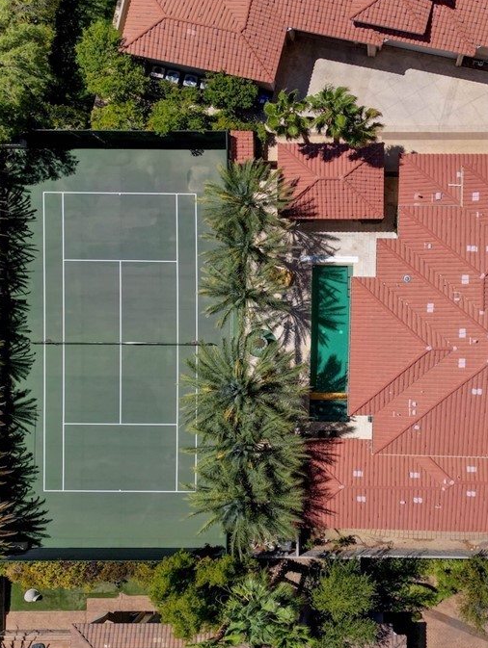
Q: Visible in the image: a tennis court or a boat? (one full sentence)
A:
The one in the frame is a tennis court.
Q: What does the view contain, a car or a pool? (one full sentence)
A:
The image shows a pool.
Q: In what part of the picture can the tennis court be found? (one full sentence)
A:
The tennis court appears toward the left of the photo.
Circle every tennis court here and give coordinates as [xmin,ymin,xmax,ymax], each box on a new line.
[1,141,235,549]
